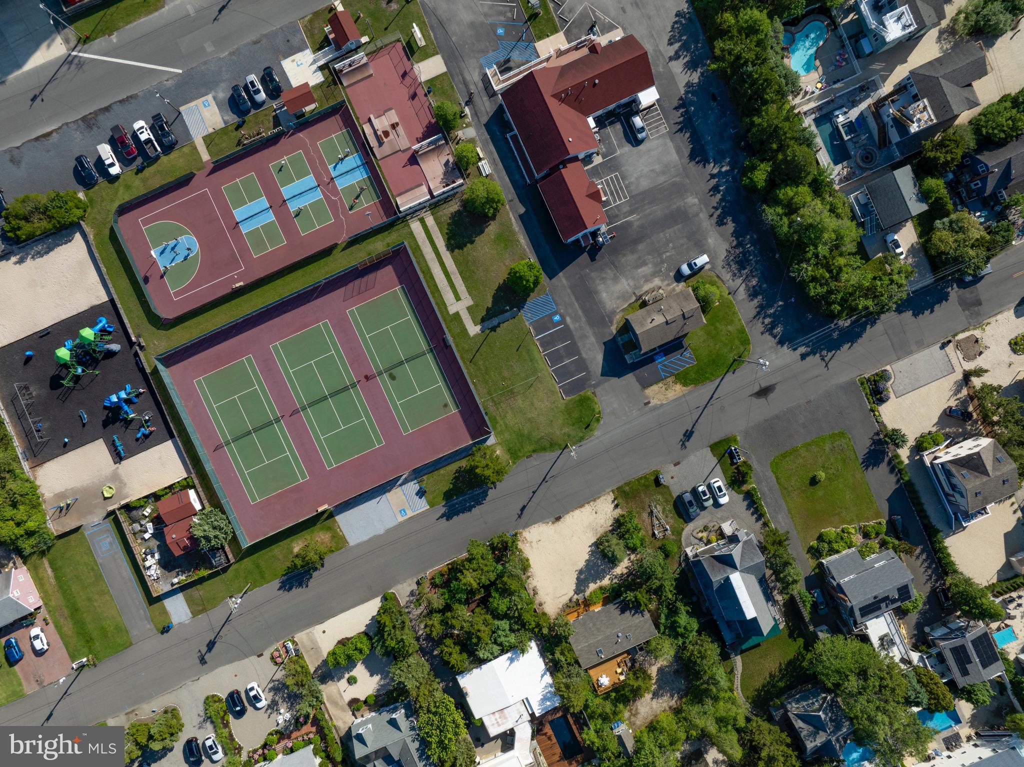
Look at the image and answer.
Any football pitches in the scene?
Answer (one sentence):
No, no football pitch is visible in the scene.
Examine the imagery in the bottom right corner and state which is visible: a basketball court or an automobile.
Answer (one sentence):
You can see an automobile in the bottom right corner.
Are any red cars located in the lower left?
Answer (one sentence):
No, in the lower left there is no red car.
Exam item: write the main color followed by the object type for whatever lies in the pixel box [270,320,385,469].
green tennis court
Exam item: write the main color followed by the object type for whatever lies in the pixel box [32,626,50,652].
white car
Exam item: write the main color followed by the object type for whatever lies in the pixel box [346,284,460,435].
green tennis court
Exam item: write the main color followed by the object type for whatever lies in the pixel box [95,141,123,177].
white truck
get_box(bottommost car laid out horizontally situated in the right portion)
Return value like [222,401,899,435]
[941,405,972,421]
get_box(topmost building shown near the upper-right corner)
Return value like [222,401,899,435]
[840,0,946,61]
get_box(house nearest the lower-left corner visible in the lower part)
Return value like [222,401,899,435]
[0,565,41,626]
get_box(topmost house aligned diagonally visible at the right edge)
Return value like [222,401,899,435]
[868,42,987,151]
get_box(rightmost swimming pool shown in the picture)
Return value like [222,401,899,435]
[990,624,1021,650]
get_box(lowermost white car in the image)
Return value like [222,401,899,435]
[205,732,224,761]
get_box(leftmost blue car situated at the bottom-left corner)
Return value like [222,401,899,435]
[6,634,26,664]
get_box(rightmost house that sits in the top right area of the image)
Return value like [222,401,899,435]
[953,125,1024,201]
